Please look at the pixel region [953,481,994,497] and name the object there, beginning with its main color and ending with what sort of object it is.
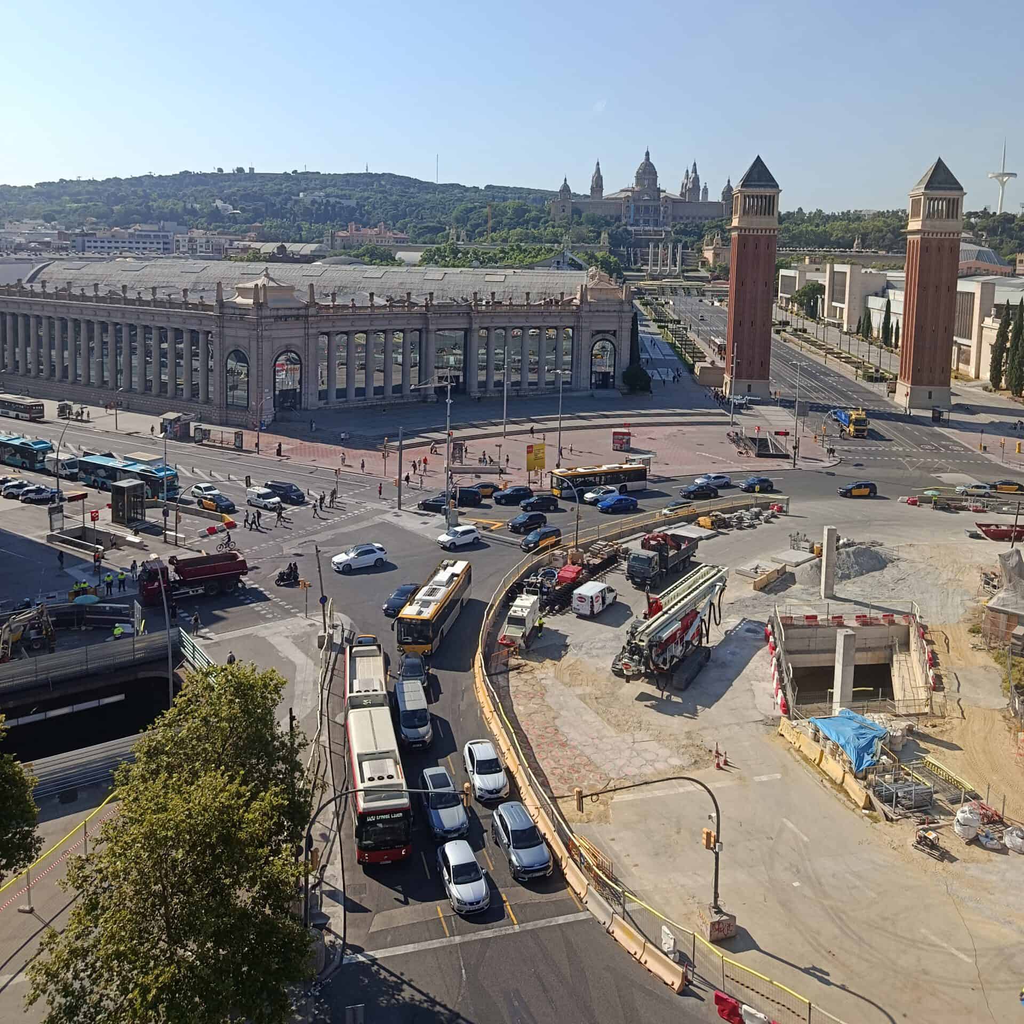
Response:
gray car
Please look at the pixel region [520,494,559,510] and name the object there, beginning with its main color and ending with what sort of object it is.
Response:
black car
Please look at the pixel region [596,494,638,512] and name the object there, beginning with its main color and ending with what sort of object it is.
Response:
blue car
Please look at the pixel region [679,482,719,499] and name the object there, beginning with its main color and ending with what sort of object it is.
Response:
black car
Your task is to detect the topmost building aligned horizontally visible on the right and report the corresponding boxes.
[549,145,749,232]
